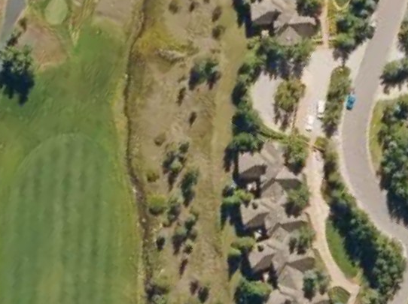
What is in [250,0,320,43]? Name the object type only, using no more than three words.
house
